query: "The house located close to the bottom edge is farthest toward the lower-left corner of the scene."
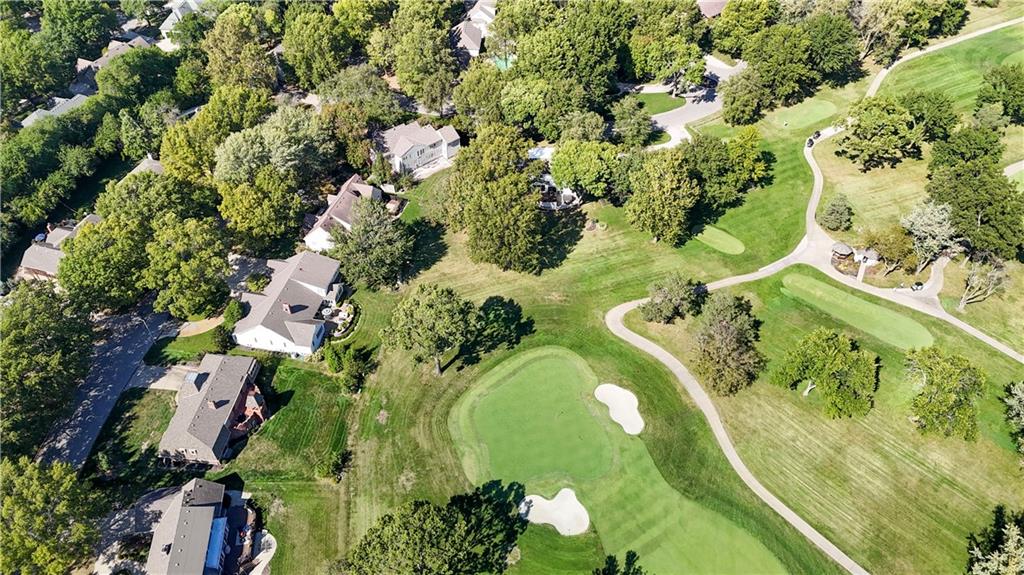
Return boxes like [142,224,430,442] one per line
[142,479,232,575]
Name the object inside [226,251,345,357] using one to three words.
house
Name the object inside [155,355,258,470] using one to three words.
house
